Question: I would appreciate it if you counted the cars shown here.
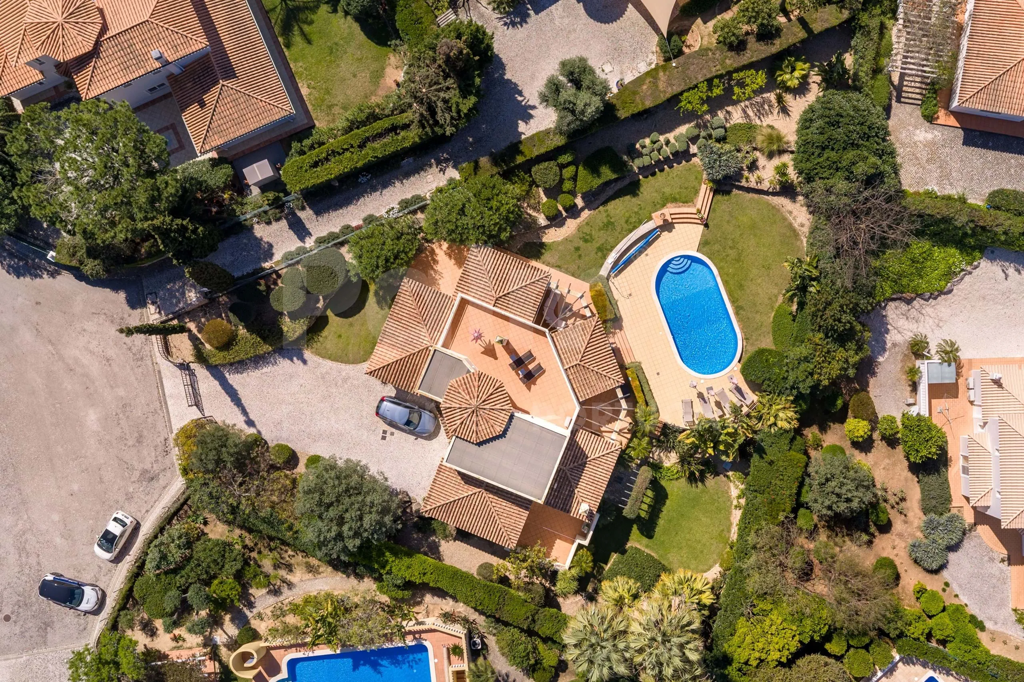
3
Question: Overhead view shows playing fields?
No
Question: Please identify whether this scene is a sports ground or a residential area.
residential area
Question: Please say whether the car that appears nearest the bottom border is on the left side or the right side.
left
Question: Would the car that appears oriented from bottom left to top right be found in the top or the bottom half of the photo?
bottom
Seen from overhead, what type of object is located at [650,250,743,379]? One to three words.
swimming pool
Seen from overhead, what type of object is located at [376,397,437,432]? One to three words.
car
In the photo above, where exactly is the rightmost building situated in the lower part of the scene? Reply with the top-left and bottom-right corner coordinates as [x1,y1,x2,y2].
[953,365,1024,530]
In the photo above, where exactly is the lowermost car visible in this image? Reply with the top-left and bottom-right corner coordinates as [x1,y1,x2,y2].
[46,575,102,607]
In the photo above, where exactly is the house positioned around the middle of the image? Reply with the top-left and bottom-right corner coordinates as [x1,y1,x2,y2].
[364,243,625,570]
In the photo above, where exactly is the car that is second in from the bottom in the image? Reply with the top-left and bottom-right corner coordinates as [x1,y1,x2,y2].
[93,511,134,563]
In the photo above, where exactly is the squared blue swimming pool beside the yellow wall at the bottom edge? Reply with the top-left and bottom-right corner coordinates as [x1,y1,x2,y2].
[282,639,437,682]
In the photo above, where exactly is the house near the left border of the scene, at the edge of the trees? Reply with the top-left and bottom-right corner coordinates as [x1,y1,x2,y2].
[0,0,302,157]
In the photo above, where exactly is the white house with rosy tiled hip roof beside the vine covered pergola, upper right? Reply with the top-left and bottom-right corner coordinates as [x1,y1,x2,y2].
[947,0,1024,123]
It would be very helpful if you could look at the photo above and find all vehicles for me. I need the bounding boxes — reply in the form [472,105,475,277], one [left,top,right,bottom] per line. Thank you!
[93,511,134,563]
[46,575,102,607]
[376,397,437,432]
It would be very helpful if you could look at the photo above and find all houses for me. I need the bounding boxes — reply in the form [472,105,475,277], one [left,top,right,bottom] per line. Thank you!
[0,0,302,157]
[364,243,625,570]
[953,365,1024,530]
[947,0,1024,123]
